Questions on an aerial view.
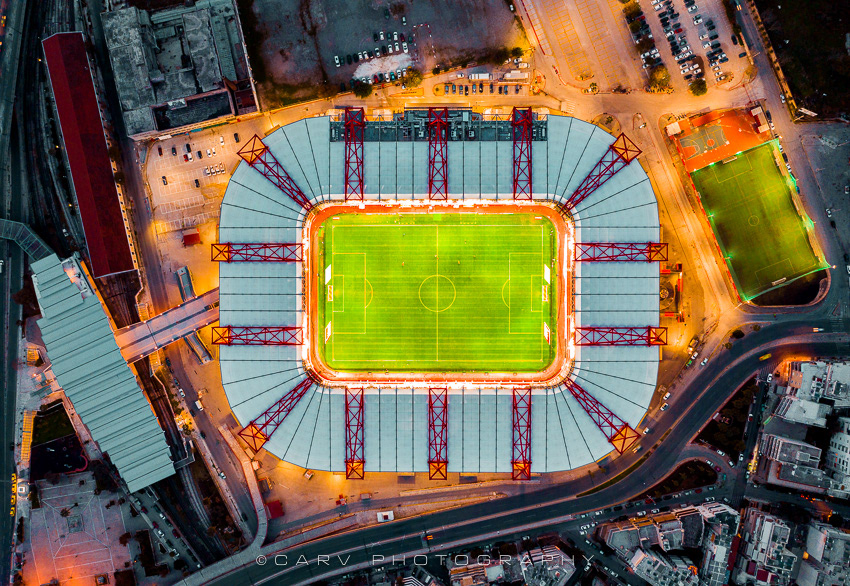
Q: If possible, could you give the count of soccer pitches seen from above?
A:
two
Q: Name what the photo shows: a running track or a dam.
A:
running track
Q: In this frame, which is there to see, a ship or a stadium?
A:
stadium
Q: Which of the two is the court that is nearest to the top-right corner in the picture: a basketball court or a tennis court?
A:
basketball court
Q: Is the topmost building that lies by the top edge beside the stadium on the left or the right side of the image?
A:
left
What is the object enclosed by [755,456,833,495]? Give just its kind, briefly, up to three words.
building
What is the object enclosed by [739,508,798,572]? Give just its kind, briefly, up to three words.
building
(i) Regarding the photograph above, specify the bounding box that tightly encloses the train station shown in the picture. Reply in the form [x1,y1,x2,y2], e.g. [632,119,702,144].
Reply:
[30,249,177,493]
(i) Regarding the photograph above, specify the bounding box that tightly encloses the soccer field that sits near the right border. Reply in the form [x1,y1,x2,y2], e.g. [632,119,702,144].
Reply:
[690,140,829,300]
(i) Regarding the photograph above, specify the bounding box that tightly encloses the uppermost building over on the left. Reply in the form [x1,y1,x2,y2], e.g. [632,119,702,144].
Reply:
[100,0,267,142]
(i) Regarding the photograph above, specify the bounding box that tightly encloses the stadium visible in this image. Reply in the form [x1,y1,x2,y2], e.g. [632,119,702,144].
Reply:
[210,106,667,480]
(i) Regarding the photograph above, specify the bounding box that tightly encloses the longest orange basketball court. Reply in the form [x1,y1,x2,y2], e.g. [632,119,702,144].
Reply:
[667,103,772,172]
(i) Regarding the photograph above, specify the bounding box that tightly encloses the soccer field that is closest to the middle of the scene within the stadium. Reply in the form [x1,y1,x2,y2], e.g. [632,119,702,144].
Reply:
[319,213,556,373]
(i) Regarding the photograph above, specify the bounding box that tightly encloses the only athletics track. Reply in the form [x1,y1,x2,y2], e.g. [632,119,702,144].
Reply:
[309,205,566,381]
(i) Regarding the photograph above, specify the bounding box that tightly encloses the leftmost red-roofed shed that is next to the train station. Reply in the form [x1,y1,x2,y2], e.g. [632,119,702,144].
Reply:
[42,32,149,279]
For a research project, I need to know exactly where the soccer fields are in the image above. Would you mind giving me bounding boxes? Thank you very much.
[319,213,556,373]
[690,140,829,300]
